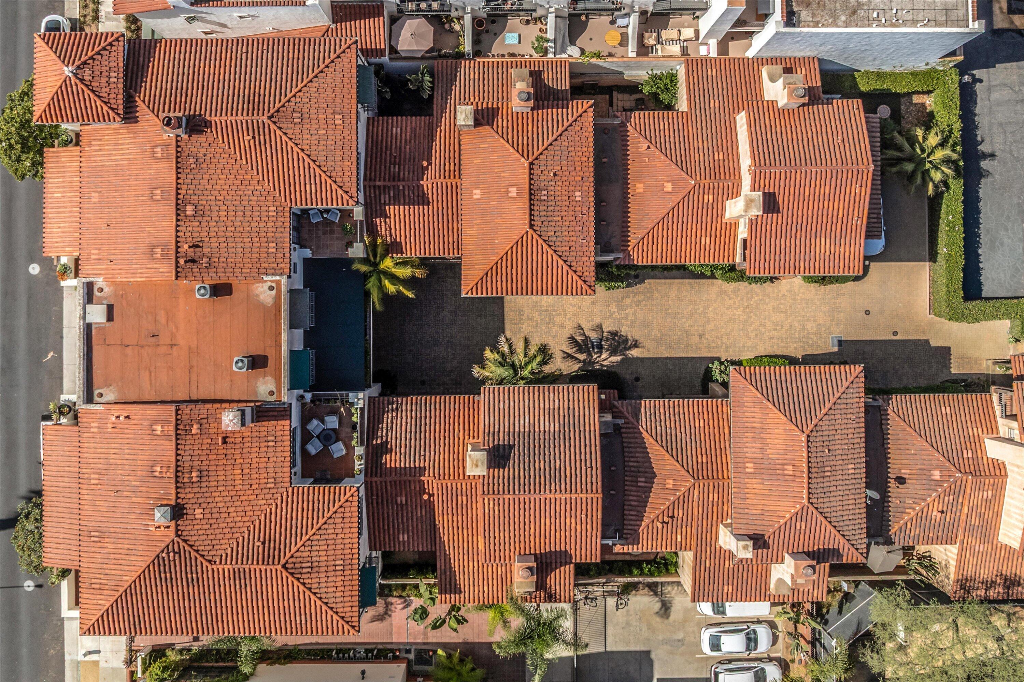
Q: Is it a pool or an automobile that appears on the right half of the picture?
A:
automobile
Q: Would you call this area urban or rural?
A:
urban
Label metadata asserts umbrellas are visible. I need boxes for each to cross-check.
[391,19,434,58]
[865,540,904,575]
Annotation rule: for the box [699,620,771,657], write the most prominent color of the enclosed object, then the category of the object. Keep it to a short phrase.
white car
